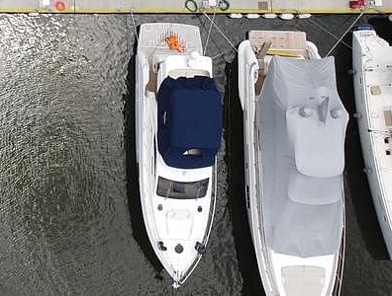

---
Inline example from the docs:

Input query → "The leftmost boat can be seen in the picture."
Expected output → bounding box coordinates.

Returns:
[130,25,223,293]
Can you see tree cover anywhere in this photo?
No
